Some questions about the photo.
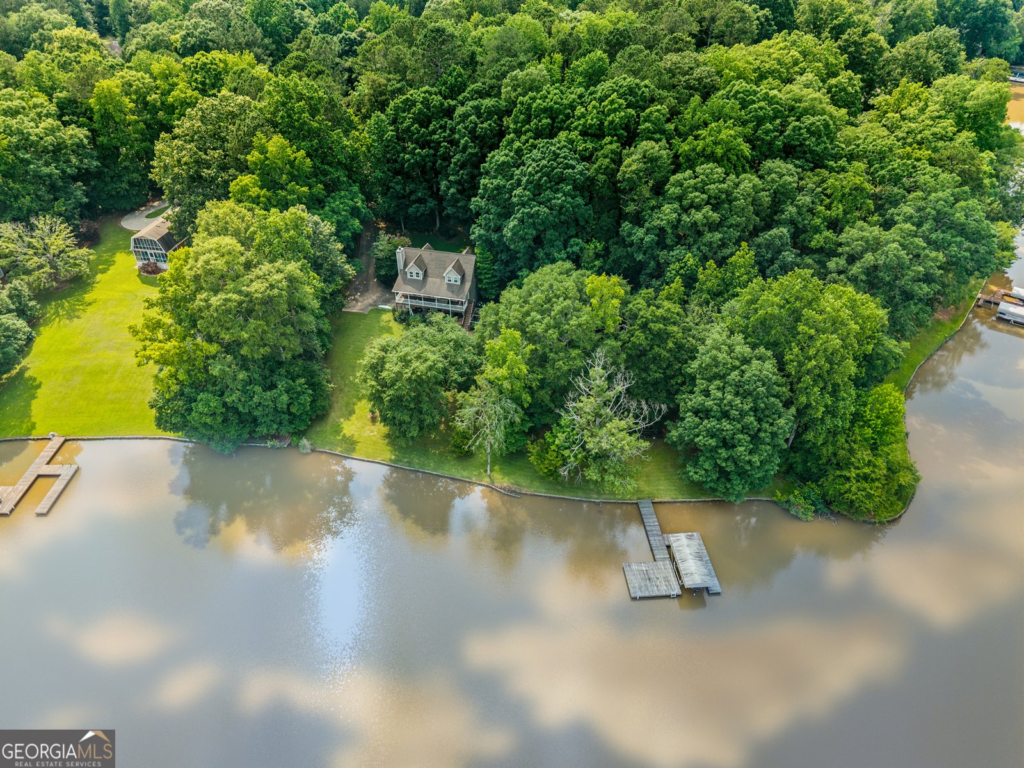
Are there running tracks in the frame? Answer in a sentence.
No, I can see no running track in this picture.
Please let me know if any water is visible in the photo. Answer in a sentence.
Yes, the picture does contain water.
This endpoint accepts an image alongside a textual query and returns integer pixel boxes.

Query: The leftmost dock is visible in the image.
[0,437,79,516]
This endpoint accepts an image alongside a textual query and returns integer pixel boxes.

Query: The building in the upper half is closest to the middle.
[391,241,481,336]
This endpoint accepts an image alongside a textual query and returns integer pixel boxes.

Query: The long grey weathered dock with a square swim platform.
[623,498,721,600]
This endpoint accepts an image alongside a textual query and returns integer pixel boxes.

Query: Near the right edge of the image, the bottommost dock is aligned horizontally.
[977,289,1024,312]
